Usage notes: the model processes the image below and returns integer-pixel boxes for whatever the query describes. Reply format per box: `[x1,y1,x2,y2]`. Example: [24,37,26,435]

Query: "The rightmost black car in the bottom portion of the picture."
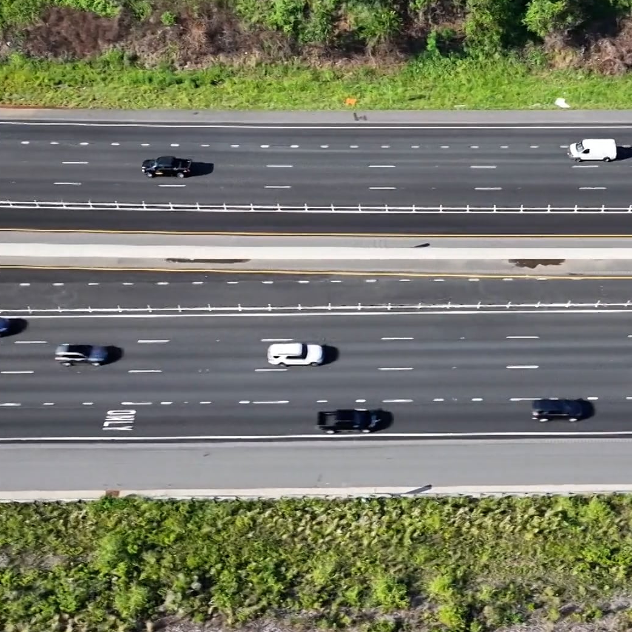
[530,396,583,422]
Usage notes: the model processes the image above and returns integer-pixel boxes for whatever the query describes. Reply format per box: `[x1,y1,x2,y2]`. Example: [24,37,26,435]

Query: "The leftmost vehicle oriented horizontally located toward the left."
[53,341,108,366]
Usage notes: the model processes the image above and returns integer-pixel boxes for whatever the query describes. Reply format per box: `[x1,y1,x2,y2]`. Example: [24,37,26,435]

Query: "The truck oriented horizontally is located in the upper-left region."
[140,156,193,177]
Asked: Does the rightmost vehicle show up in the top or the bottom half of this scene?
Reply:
top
